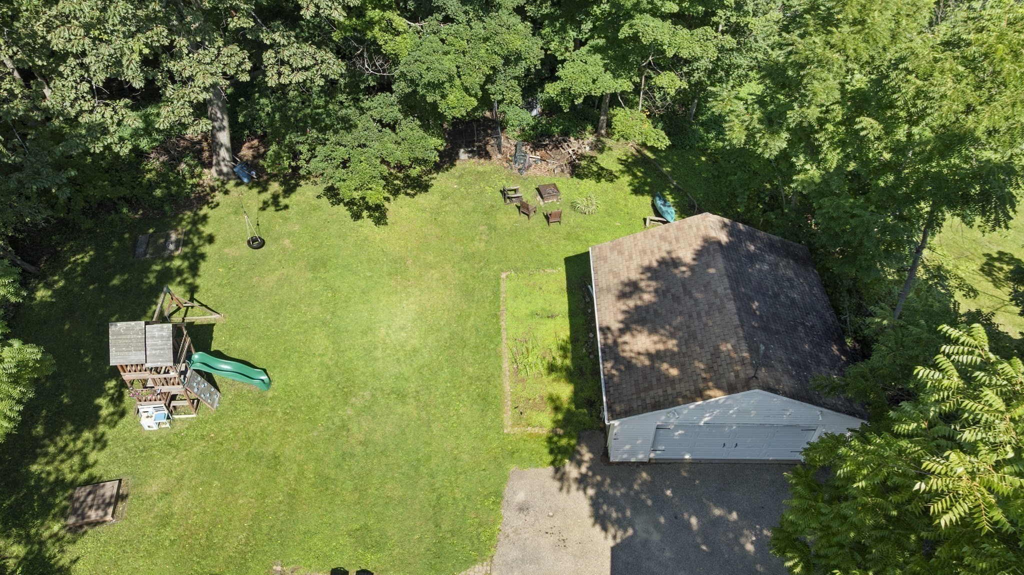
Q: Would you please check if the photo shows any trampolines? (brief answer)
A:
No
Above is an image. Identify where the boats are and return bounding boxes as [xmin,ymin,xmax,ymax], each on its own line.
[655,191,675,223]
